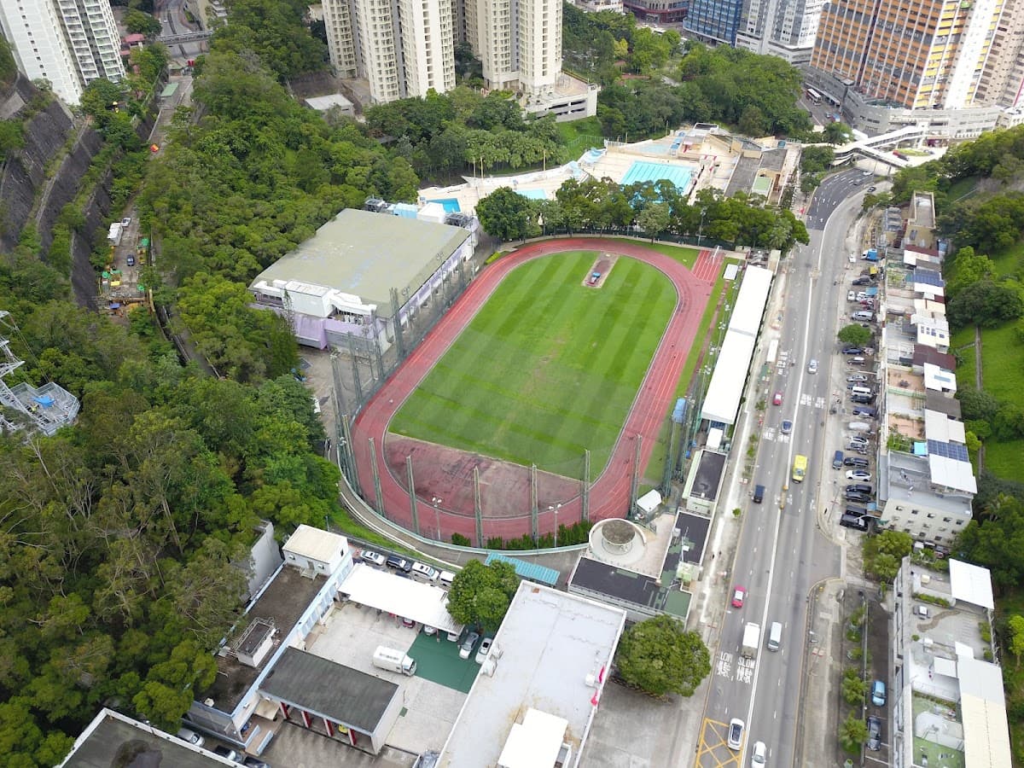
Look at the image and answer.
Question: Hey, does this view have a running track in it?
Yes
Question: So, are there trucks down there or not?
Yes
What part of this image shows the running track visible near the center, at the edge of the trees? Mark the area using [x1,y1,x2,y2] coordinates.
[350,240,724,546]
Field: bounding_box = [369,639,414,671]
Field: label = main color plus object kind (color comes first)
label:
white truck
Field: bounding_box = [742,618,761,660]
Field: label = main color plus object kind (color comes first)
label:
white vehicle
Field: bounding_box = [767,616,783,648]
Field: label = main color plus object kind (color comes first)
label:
white vehicle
